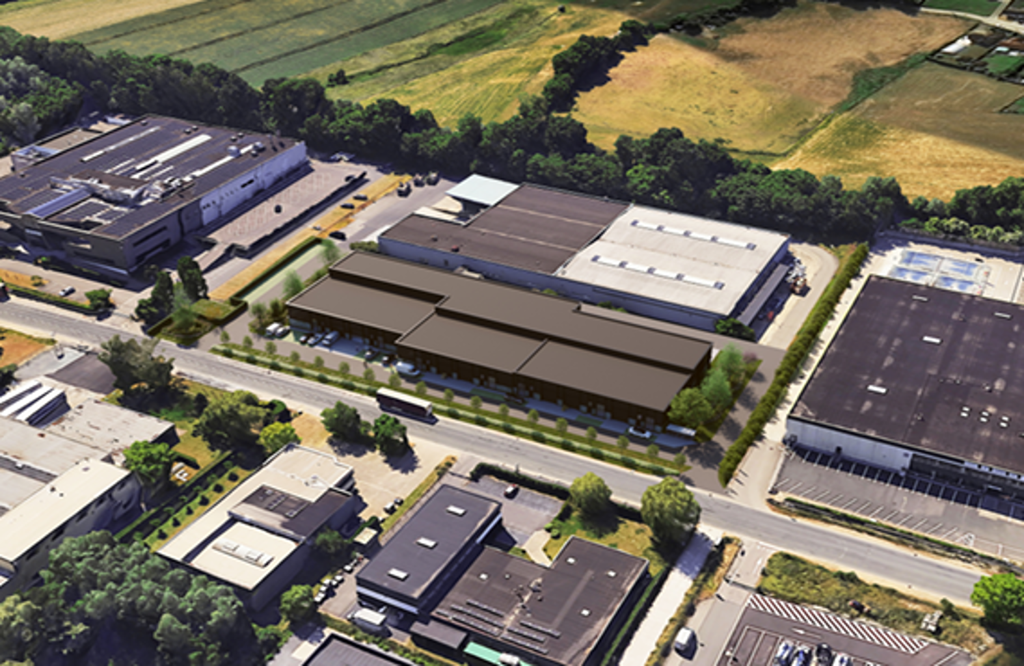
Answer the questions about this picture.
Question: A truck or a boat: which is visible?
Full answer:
The one in the frame is a truck.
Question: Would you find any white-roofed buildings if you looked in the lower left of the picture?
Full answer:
Yes, I can see a white-roofed building in the lower left of the picture.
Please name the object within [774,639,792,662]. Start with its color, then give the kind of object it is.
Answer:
white car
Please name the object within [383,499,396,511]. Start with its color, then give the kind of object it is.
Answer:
white vehicle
